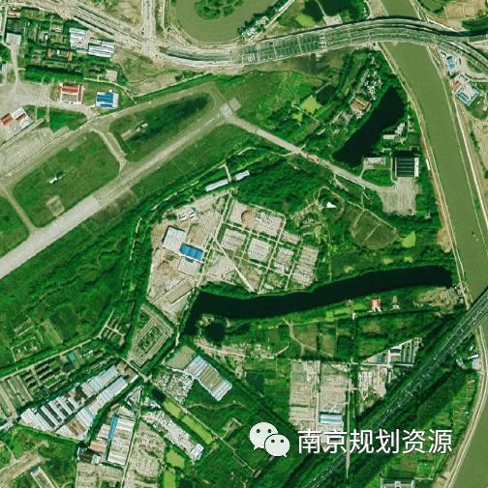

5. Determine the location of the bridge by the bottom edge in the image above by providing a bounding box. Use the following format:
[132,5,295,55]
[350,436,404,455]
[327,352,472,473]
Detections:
[305,294,488,488]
